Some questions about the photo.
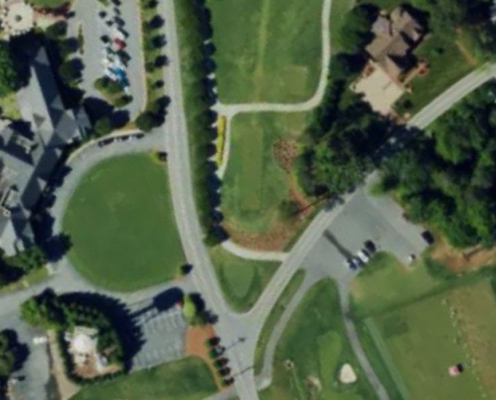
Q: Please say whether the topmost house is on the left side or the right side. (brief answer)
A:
right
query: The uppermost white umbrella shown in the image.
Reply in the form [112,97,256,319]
[73,333,90,350]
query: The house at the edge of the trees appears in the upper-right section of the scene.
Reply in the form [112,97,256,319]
[359,2,424,86]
